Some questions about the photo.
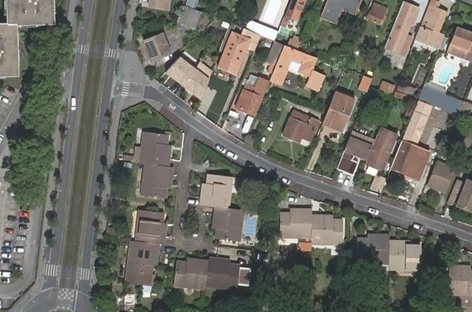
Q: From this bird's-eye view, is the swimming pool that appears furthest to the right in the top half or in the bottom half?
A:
top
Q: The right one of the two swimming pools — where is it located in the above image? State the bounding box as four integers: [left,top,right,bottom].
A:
[432,54,470,88]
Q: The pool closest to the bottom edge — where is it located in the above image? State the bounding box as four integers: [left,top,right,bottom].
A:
[240,214,258,244]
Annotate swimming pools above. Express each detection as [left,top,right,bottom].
[432,54,470,88]
[240,214,258,244]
